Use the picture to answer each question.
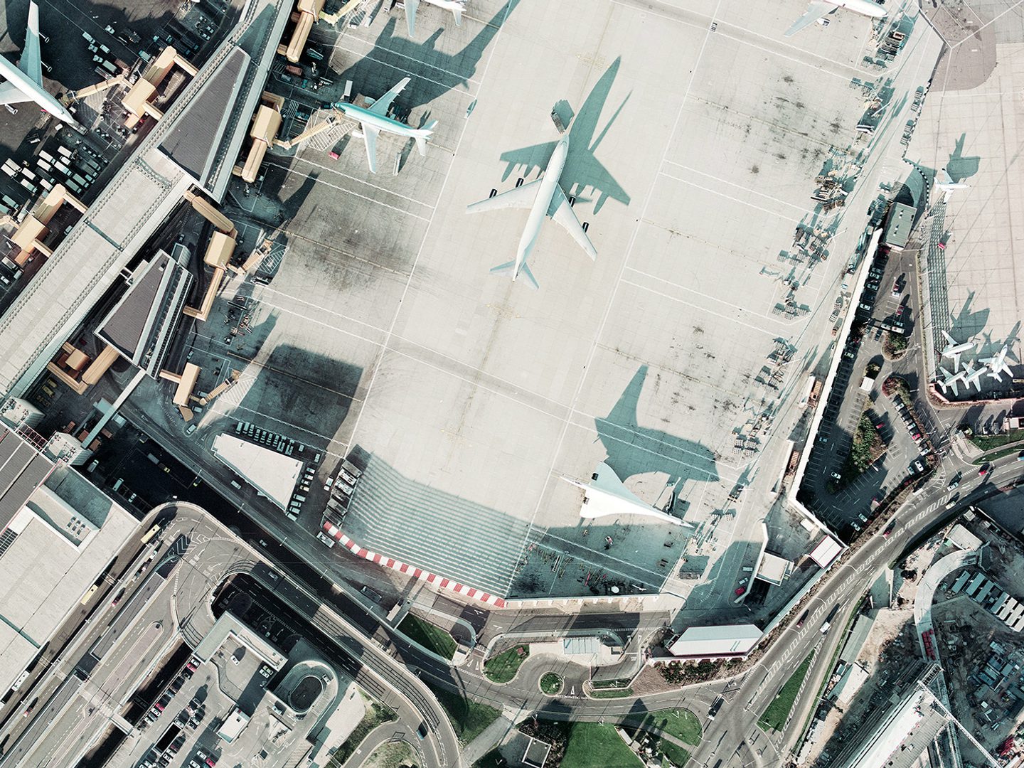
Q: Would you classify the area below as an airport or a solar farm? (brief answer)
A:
airport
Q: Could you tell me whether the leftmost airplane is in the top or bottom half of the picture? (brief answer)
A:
top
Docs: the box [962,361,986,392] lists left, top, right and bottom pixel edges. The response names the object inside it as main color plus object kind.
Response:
white airplane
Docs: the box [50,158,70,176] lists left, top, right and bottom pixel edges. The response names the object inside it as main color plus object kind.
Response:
white vehicle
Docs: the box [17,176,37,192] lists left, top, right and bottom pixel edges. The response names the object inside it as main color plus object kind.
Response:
white vehicle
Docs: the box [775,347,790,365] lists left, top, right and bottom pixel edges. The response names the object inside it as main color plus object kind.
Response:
gray work vehicle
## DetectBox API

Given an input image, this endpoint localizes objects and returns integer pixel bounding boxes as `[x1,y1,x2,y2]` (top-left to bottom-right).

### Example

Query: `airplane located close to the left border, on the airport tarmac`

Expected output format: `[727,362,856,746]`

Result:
[0,1,74,123]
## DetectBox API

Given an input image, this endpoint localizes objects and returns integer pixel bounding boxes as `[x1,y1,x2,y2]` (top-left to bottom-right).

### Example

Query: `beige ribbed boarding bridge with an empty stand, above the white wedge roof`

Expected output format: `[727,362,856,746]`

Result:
[191,370,241,405]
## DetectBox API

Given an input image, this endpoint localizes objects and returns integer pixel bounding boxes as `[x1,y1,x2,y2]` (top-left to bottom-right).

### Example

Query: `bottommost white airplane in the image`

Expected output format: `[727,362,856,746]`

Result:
[561,462,693,527]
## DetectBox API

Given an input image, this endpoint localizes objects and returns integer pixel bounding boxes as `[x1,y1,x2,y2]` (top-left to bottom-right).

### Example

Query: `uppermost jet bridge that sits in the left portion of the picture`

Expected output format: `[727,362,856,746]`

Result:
[321,0,366,25]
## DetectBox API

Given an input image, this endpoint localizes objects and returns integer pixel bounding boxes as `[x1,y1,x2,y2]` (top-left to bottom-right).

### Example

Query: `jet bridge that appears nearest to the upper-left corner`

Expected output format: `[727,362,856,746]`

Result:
[62,71,133,104]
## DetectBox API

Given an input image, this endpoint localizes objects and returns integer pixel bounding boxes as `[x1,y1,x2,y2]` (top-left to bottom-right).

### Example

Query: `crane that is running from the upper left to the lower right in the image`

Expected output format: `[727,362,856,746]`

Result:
[911,677,1010,768]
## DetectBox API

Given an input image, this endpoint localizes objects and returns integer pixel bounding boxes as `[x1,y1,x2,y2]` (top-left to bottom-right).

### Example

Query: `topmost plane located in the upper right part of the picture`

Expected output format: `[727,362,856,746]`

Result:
[779,0,888,36]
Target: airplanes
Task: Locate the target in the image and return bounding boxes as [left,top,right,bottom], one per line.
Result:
[466,136,597,285]
[332,76,432,171]
[0,1,74,123]
[939,365,964,397]
[935,167,970,204]
[939,330,976,373]
[980,346,1013,380]
[396,0,466,41]
[779,0,888,36]
[962,361,986,392]
[561,462,693,527]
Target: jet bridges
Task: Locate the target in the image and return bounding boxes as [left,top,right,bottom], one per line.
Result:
[62,71,133,104]
[321,0,366,25]
[277,111,340,152]
[227,236,273,275]
[191,370,241,405]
